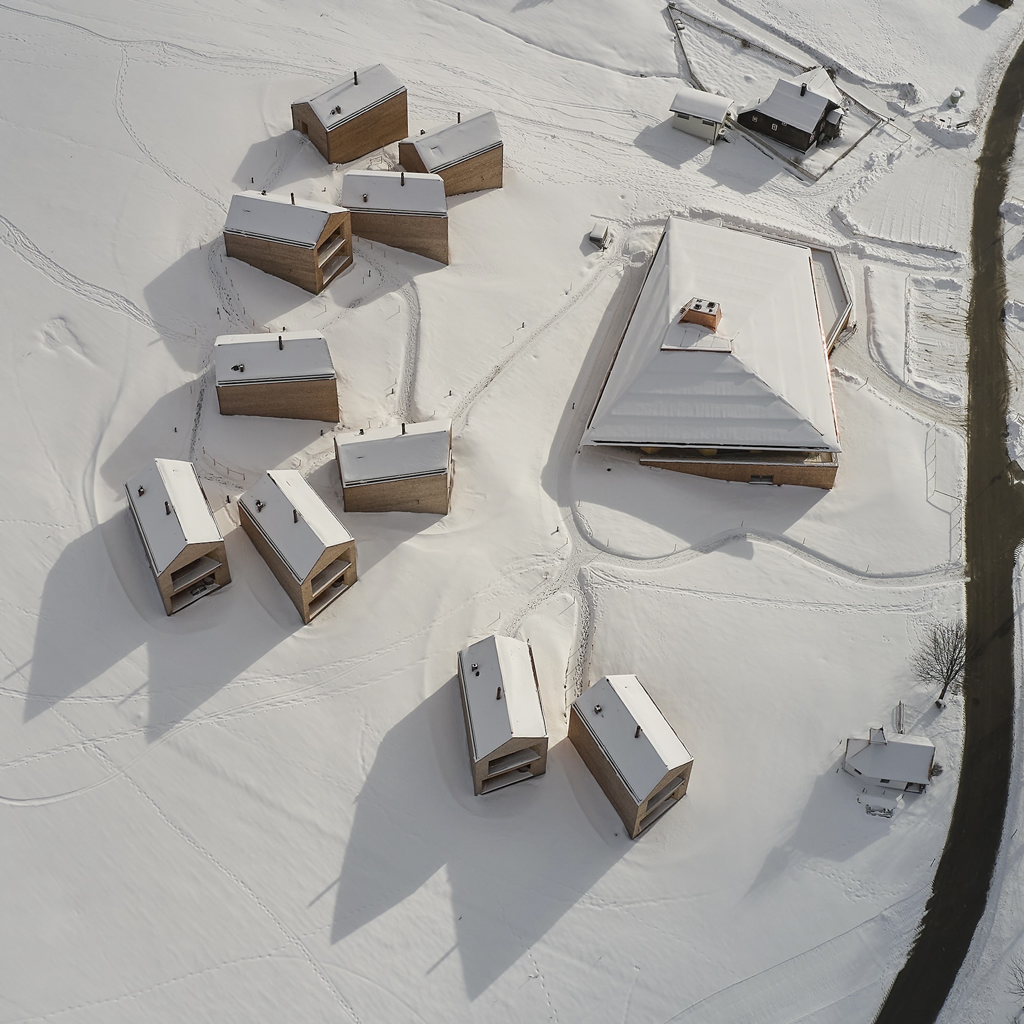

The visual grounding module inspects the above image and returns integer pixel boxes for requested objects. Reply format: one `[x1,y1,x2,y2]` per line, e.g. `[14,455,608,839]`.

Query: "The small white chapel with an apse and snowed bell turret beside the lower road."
[841,724,935,796]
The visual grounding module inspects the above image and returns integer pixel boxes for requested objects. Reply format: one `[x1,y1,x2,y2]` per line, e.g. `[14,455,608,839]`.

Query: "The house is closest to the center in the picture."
[335,419,451,513]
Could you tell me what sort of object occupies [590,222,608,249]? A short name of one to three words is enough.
building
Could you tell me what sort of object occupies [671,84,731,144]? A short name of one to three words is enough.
shed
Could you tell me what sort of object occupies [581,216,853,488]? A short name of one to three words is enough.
building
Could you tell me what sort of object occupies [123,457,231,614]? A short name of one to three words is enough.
house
